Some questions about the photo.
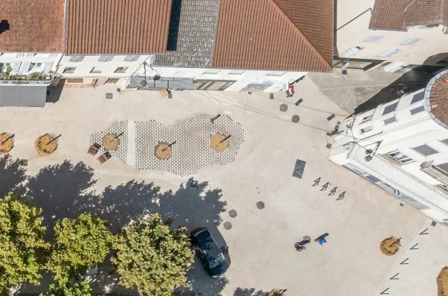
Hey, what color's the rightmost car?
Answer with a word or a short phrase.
black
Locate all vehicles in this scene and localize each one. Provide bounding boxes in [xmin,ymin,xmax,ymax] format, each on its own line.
[87,248,114,296]
[190,221,232,282]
